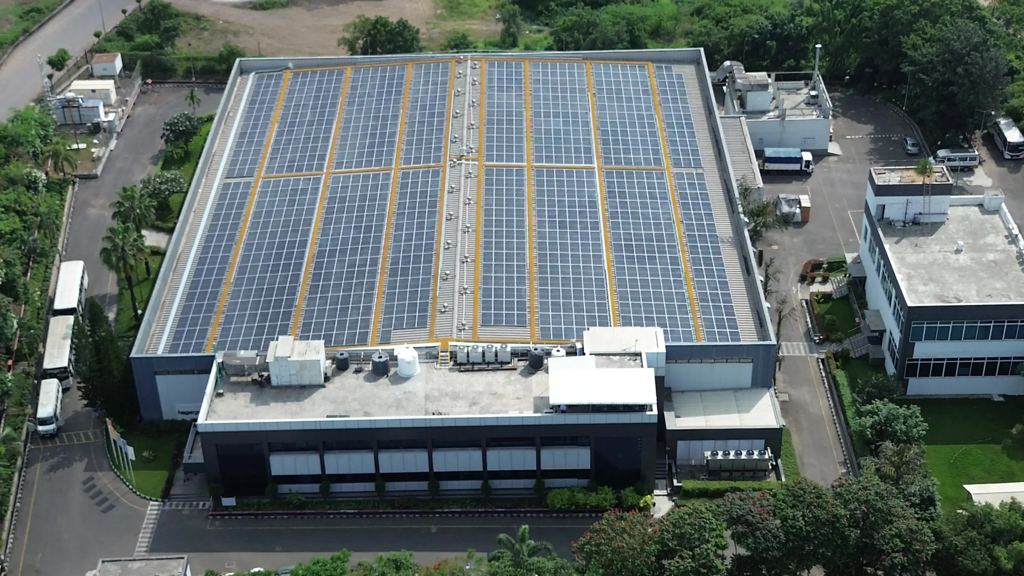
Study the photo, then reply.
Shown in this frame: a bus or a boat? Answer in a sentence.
Visible in the photo is a bus.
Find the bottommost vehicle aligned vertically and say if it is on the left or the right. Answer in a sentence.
The bottommost vehicle aligned vertically appears in the left half of the scene.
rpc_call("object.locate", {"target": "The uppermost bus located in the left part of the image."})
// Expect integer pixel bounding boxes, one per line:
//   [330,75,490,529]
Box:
[55,260,87,319]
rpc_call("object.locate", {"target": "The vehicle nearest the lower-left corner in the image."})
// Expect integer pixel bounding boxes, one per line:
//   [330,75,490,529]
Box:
[35,378,67,443]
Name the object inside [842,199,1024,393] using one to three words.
building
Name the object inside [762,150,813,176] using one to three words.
truck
